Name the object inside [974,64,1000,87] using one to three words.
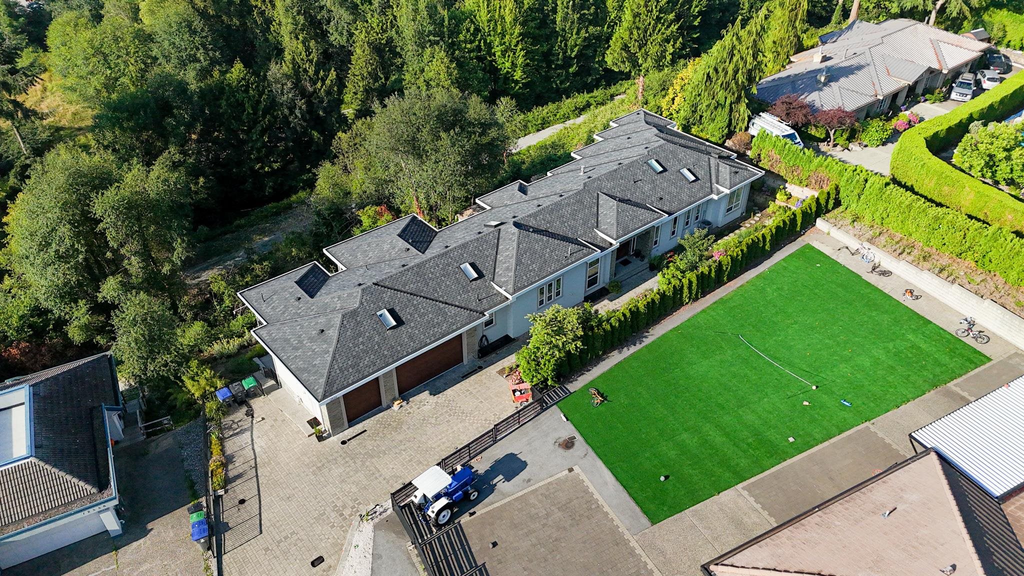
car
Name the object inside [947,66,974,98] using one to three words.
car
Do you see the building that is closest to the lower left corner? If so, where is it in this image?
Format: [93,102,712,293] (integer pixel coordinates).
[0,359,137,576]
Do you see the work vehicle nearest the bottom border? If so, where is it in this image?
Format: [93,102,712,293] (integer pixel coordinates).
[416,472,481,528]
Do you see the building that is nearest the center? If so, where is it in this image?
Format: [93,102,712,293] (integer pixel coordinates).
[235,107,770,437]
